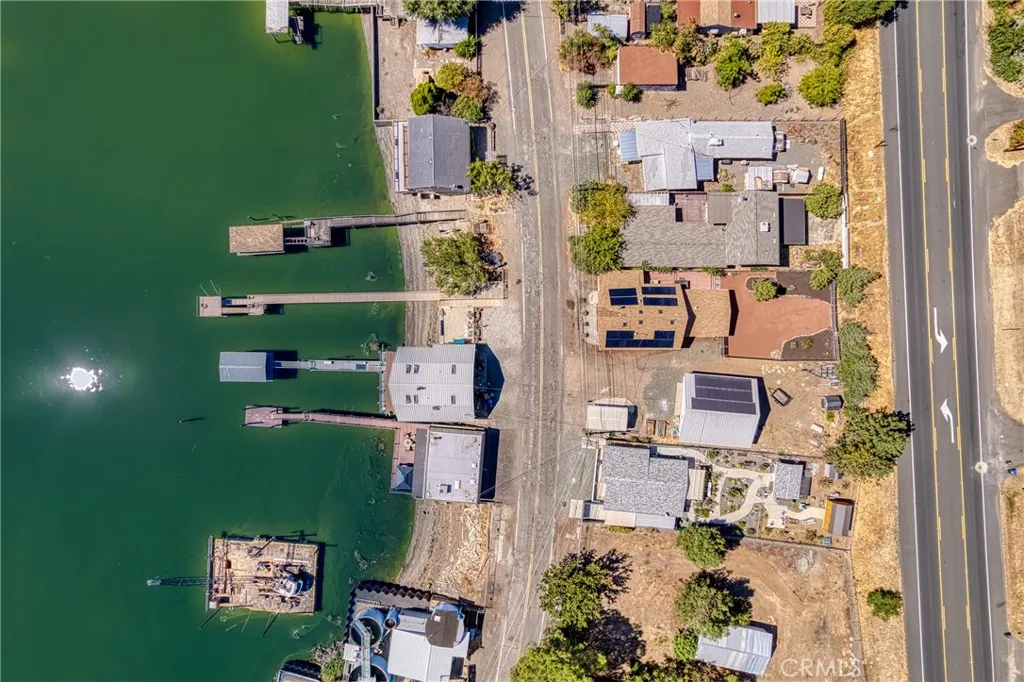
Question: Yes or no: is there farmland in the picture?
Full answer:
No, farmland can't be seen anywhere here.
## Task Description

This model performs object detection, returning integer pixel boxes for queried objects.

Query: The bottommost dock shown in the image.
[245,405,401,430]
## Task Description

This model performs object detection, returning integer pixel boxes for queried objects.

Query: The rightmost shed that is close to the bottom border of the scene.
[694,621,772,675]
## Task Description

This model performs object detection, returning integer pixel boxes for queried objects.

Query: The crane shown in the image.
[144,553,314,599]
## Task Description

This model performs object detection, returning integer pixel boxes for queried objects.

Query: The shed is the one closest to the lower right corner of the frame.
[823,498,855,536]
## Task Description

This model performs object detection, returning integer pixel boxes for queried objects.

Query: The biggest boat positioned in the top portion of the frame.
[289,10,303,42]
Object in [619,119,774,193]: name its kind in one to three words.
house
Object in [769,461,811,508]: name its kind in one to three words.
shed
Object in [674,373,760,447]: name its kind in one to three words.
barn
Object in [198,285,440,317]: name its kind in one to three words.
pier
